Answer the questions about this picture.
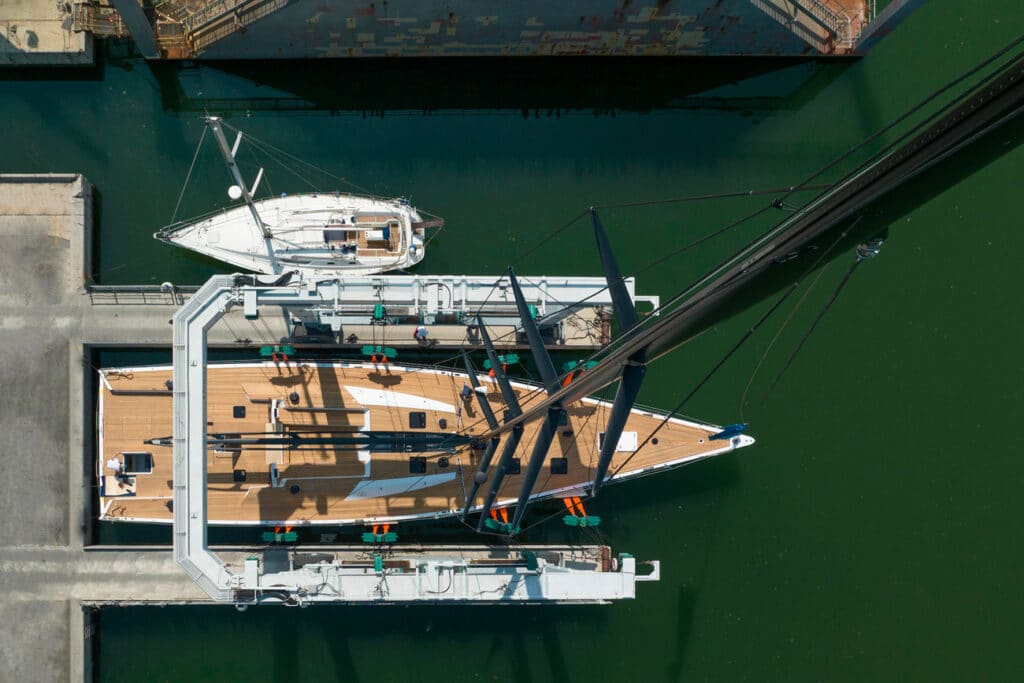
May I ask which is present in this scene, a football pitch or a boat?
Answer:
boat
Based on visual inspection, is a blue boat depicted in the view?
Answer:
No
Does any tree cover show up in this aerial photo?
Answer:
No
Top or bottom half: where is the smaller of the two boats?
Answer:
top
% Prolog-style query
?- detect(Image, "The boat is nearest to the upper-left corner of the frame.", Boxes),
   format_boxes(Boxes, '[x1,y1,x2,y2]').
[153,104,444,276]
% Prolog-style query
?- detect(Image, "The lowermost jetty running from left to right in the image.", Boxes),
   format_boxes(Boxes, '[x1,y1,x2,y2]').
[71,544,611,606]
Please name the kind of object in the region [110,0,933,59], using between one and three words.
pier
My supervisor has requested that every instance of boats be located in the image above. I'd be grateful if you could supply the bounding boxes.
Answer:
[98,33,1024,532]
[153,104,444,276]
